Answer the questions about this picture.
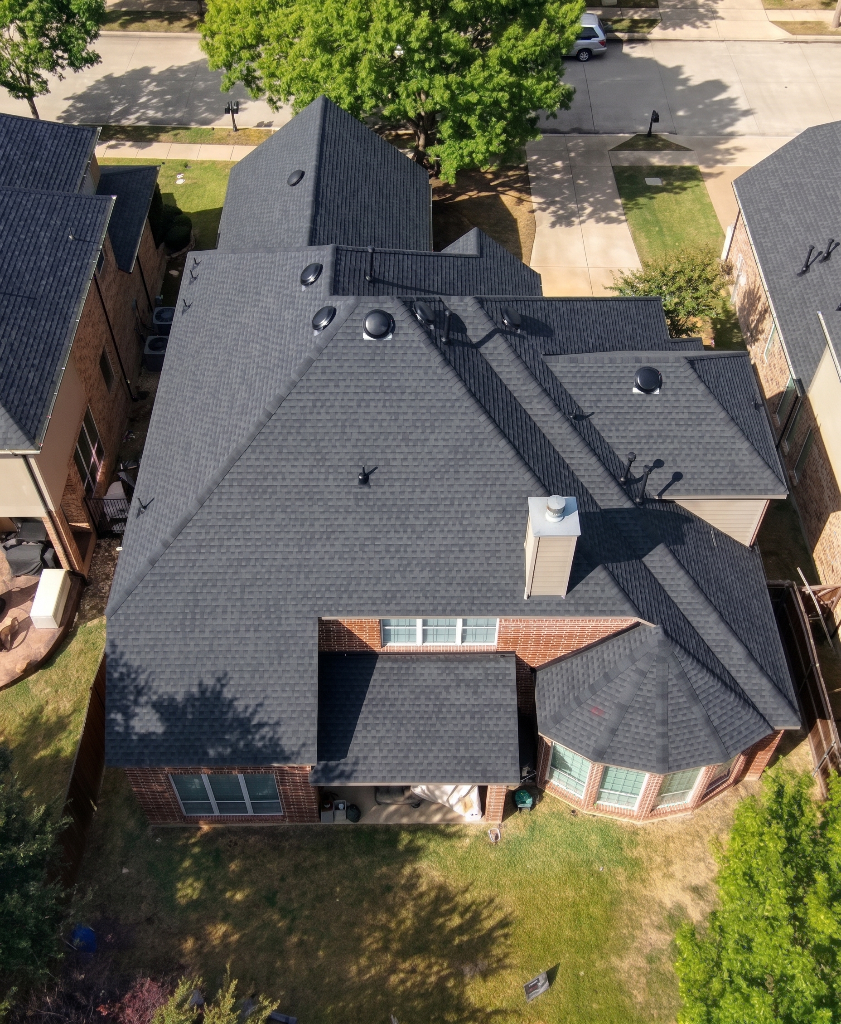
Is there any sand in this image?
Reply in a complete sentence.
No, the picture contains no sand.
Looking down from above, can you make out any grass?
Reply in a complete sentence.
Yes, there's grass in this view.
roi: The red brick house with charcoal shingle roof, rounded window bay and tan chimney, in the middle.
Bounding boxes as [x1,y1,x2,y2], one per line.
[104,94,802,829]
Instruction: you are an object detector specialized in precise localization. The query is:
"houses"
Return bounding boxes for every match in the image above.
[104,94,802,829]
[0,107,169,597]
